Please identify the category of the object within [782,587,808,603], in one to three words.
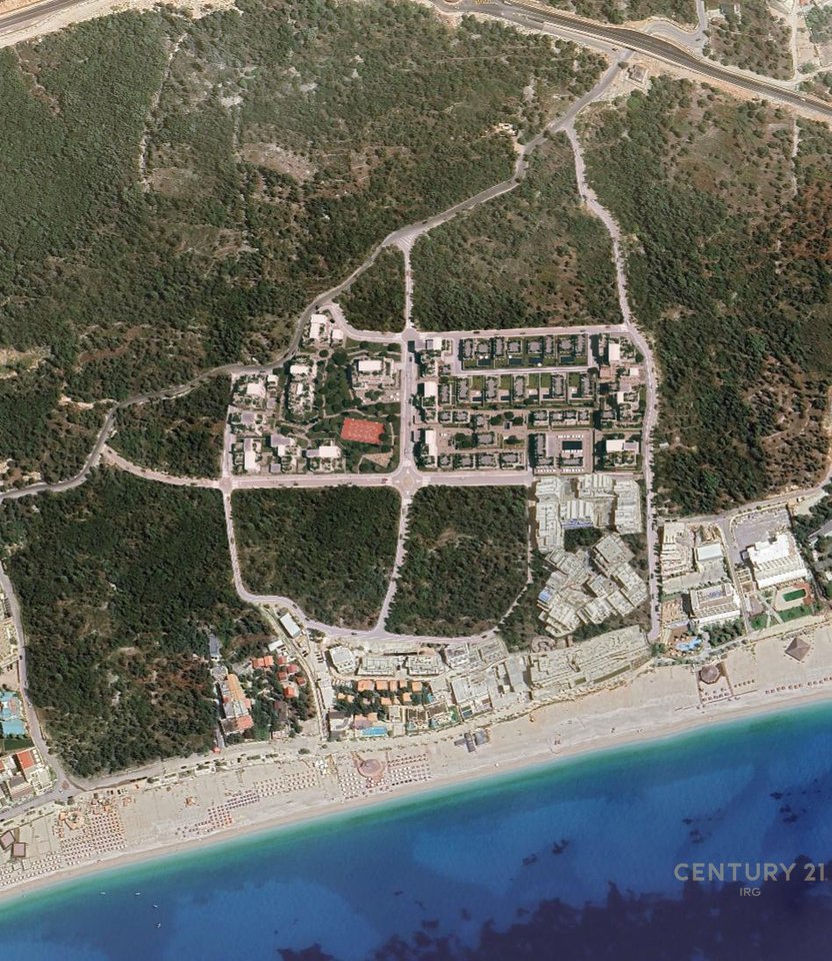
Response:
swimming pool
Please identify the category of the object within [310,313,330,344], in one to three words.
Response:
building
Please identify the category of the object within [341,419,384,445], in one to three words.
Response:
sports court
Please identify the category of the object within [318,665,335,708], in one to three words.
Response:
shed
